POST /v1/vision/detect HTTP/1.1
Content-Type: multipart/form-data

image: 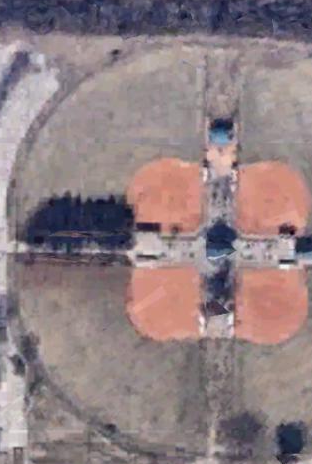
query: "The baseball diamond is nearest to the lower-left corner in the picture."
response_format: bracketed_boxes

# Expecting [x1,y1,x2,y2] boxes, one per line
[13,265,206,456]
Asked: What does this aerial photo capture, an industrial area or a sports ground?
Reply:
sports ground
